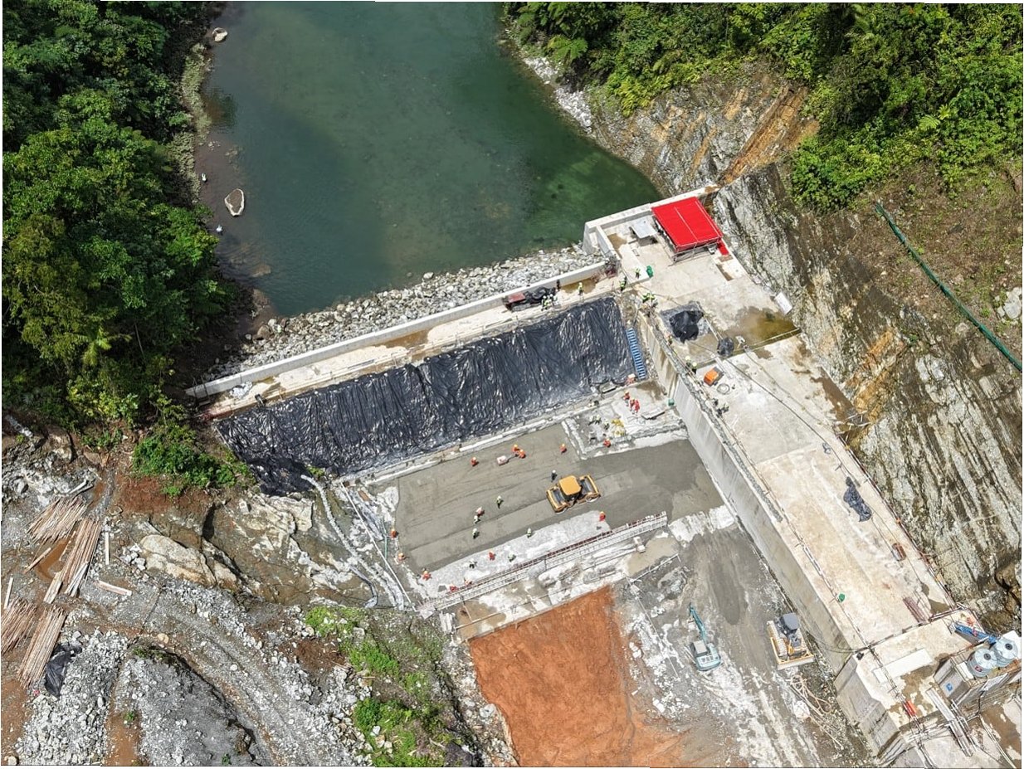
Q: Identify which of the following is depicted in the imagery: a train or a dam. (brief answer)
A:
dam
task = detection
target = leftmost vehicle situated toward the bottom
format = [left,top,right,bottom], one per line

[549,483,603,519]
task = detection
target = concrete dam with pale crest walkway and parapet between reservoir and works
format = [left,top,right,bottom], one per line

[196,263,657,501]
